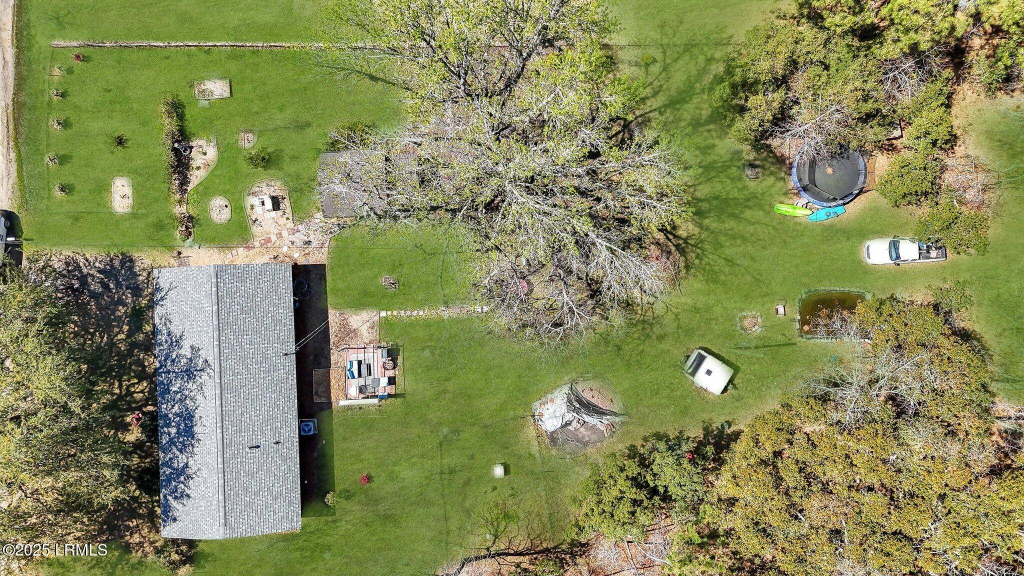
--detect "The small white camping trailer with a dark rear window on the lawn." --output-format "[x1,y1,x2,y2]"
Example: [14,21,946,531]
[680,345,737,393]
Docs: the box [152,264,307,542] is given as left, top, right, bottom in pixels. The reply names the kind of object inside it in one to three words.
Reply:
house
